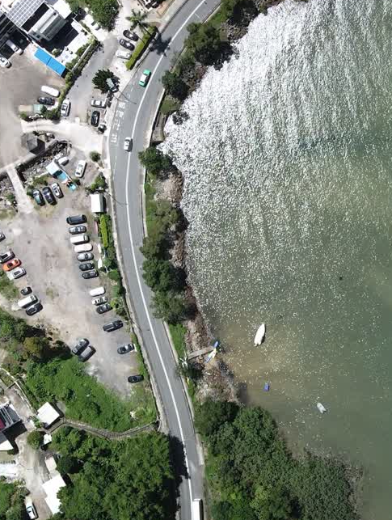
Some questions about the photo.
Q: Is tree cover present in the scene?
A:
Yes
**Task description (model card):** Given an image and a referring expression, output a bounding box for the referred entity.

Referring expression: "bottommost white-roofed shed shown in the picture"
[42,472,69,515]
